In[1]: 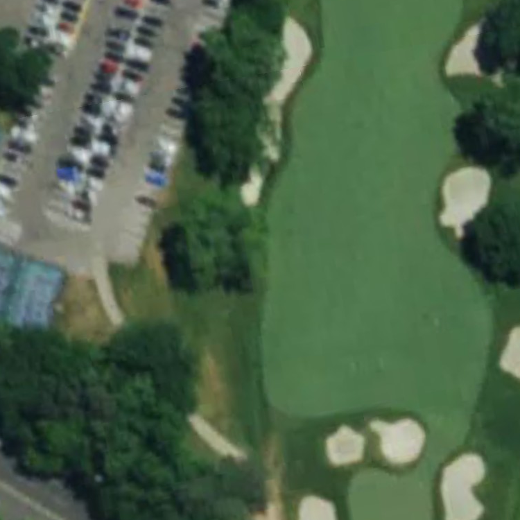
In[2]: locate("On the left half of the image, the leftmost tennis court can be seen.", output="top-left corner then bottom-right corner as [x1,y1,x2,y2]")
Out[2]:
[0,248,20,313]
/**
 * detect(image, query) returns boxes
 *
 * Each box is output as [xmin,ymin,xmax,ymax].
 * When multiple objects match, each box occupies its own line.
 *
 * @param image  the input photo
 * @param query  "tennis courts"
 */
[0,256,62,332]
[0,248,20,313]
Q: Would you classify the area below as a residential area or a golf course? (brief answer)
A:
golf course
